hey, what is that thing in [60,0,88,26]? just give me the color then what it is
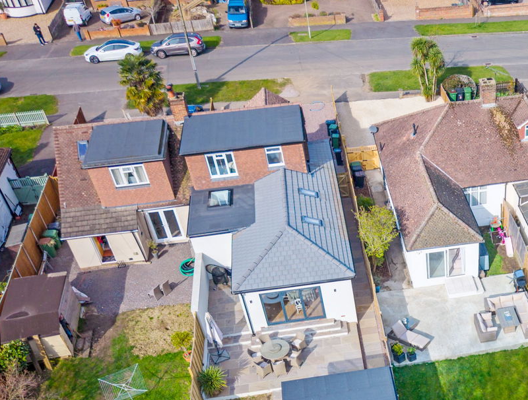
white vehicle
